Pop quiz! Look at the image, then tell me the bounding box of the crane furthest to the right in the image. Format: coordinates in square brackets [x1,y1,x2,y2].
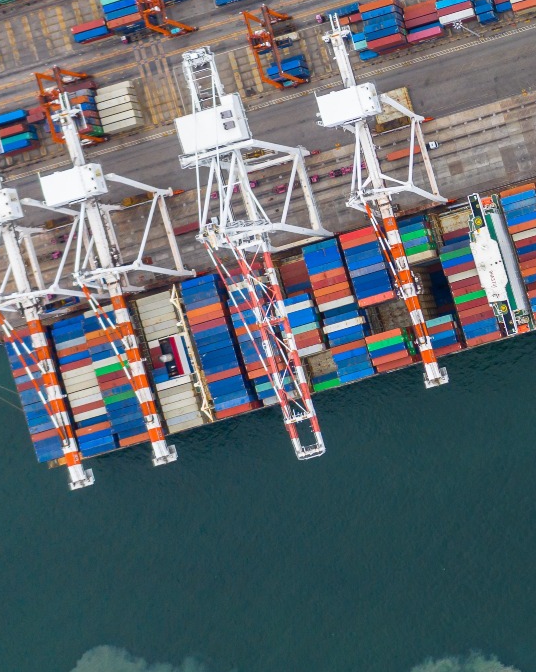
[313,13,462,387]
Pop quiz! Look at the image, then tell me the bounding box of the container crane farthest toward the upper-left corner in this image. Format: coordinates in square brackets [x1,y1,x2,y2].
[24,63,97,145]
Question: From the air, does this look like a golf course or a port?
port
